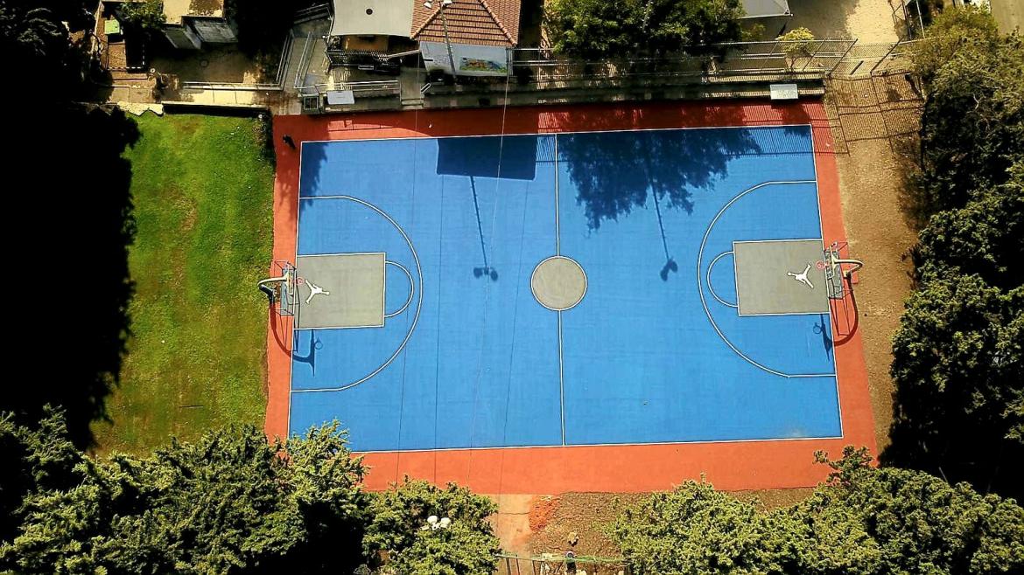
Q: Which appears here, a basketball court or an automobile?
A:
basketball court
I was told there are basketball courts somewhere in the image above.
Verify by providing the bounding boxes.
[263,99,877,499]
